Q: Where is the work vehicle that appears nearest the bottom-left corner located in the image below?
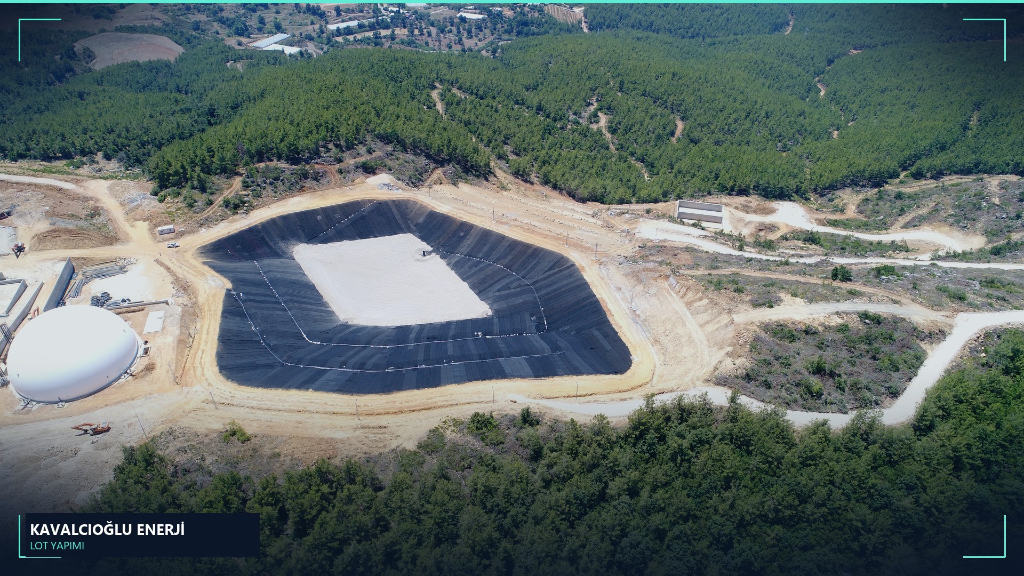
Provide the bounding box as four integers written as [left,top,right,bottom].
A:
[72,421,113,437]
